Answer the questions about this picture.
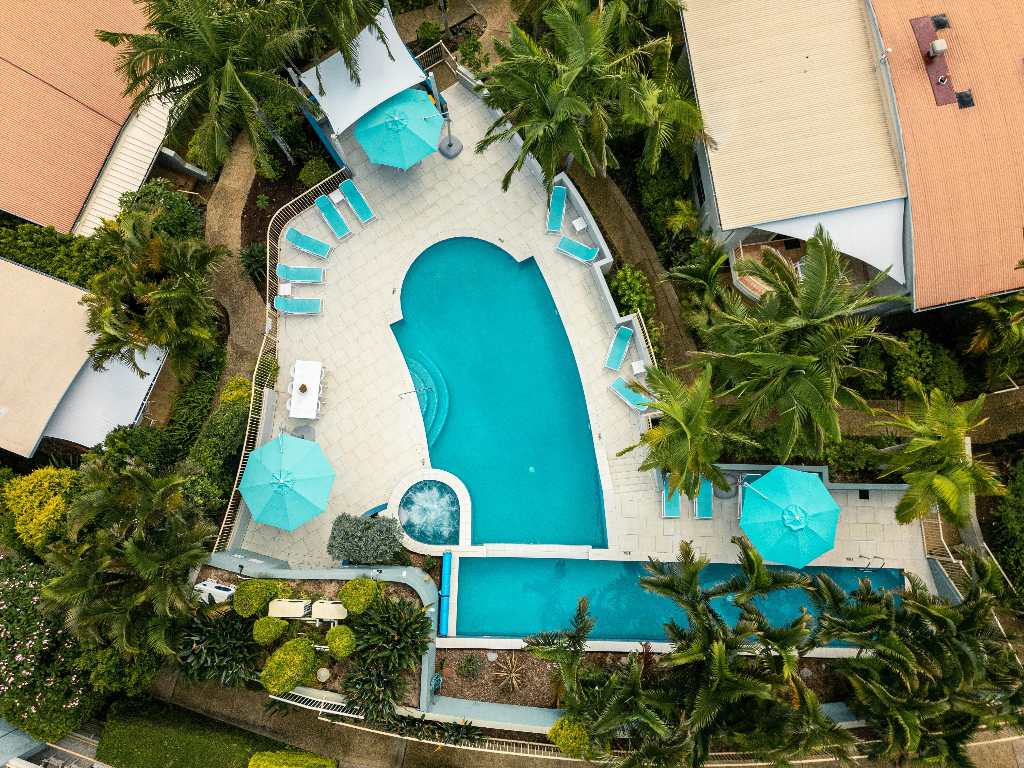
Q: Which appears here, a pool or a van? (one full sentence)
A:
The image shows a pool.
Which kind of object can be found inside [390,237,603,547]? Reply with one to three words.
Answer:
swimming pool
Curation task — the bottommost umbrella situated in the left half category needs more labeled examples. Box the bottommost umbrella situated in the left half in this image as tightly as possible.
[238,423,336,532]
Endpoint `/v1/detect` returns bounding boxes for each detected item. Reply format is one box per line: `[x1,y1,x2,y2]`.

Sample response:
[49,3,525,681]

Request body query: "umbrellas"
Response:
[238,423,336,532]
[714,466,841,569]
[356,89,464,169]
